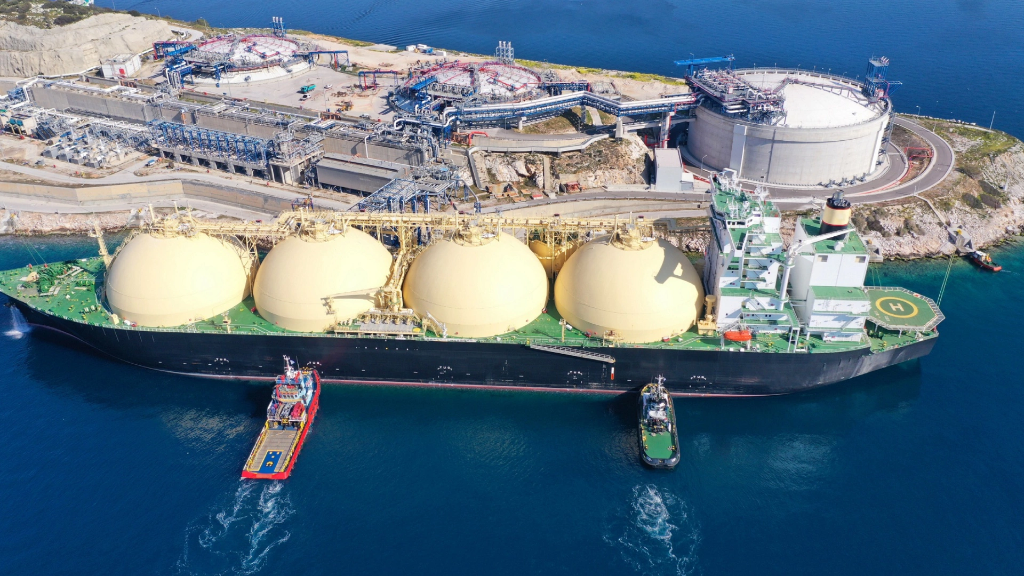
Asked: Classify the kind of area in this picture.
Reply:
industrial area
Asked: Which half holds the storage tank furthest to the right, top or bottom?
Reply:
top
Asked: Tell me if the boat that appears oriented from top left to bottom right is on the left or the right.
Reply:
right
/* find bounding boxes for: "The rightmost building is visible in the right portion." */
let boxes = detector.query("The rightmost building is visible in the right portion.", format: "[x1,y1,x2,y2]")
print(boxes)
[649,146,697,191]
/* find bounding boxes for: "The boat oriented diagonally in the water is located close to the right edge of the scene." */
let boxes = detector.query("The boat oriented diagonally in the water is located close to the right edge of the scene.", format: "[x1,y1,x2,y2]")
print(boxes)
[971,249,1001,272]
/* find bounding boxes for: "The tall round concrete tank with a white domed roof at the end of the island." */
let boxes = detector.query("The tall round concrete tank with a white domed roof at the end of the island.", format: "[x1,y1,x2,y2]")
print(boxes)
[680,46,912,186]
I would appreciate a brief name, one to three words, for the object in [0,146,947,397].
ship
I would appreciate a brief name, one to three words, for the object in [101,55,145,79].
building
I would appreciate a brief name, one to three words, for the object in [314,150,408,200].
building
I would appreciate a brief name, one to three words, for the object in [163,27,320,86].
storage tank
